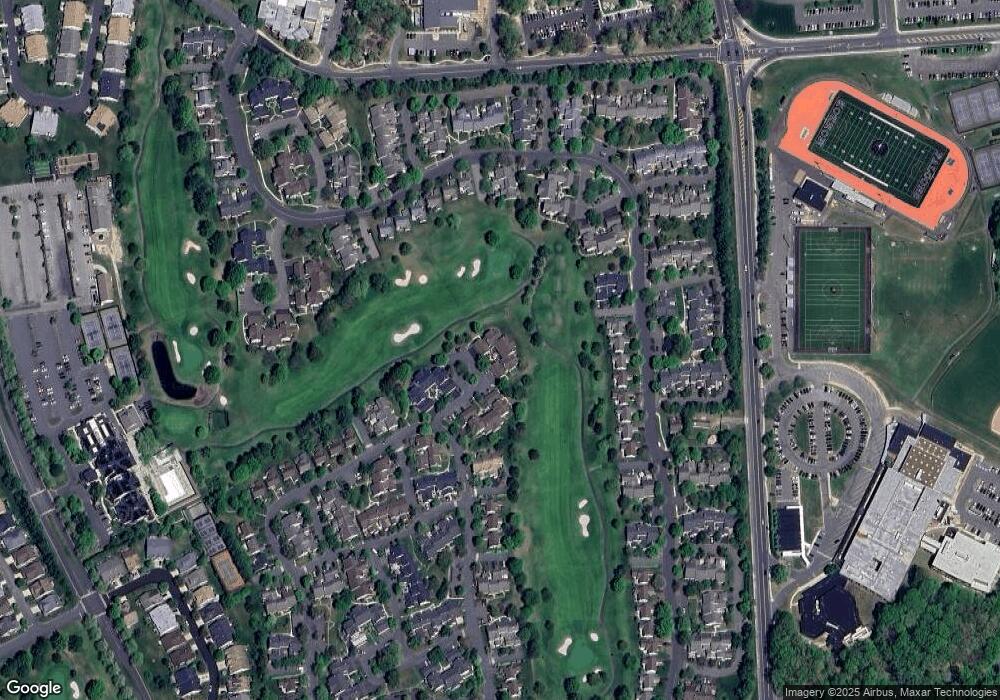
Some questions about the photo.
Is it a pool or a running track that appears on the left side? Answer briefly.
pool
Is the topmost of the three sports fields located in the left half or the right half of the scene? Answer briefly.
right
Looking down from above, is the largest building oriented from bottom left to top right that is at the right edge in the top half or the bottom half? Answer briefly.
bottom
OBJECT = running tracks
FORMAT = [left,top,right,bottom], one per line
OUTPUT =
[778,80,968,228]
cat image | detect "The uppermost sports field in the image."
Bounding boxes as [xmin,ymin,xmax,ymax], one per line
[809,91,949,207]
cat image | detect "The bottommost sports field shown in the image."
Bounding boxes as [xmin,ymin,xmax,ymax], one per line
[932,318,1000,440]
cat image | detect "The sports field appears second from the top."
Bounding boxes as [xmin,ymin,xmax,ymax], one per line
[794,226,871,353]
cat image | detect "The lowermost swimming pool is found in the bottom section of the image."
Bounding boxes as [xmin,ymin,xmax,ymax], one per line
[159,469,186,503]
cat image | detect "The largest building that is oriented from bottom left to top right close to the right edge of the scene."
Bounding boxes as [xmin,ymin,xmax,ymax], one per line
[801,422,973,650]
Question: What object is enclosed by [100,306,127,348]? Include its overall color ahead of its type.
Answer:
gray tennis court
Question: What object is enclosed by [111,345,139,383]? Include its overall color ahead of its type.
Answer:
gray tennis court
